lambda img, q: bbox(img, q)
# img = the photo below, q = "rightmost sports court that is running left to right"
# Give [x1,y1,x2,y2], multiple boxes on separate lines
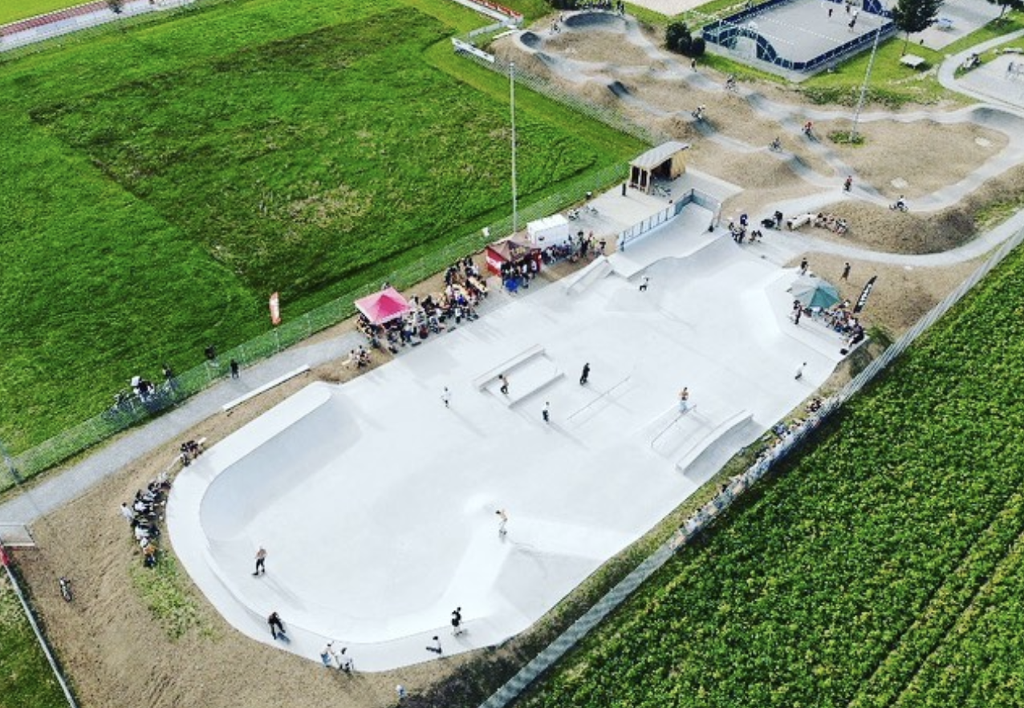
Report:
[704,0,895,70]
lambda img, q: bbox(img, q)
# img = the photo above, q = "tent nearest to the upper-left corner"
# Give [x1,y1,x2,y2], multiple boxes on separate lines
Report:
[347,276,415,322]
